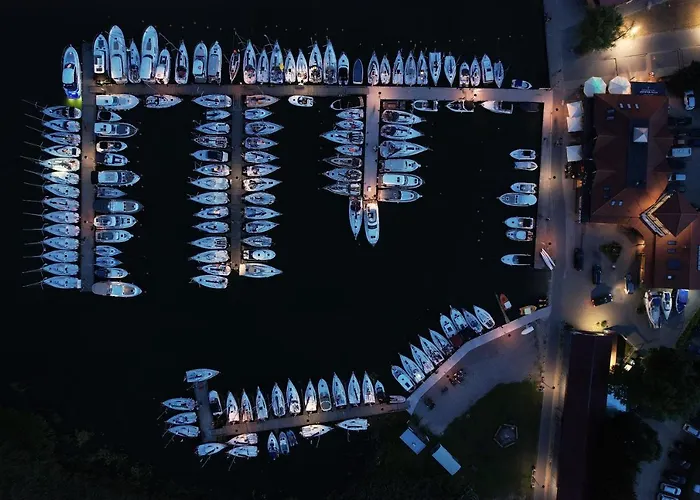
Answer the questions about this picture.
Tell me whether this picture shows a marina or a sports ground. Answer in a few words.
marina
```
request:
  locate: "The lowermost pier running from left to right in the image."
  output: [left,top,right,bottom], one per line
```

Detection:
[211,400,403,438]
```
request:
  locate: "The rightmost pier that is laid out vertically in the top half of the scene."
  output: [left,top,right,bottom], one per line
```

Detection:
[364,98,379,200]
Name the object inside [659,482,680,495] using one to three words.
vehicle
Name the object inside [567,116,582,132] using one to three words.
umbrella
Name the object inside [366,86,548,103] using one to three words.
pier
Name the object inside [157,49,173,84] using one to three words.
boat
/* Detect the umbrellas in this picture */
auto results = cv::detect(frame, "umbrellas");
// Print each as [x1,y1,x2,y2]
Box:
[583,76,606,98]
[567,100,583,116]
[608,75,630,94]
[566,146,582,161]
[567,116,582,132]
